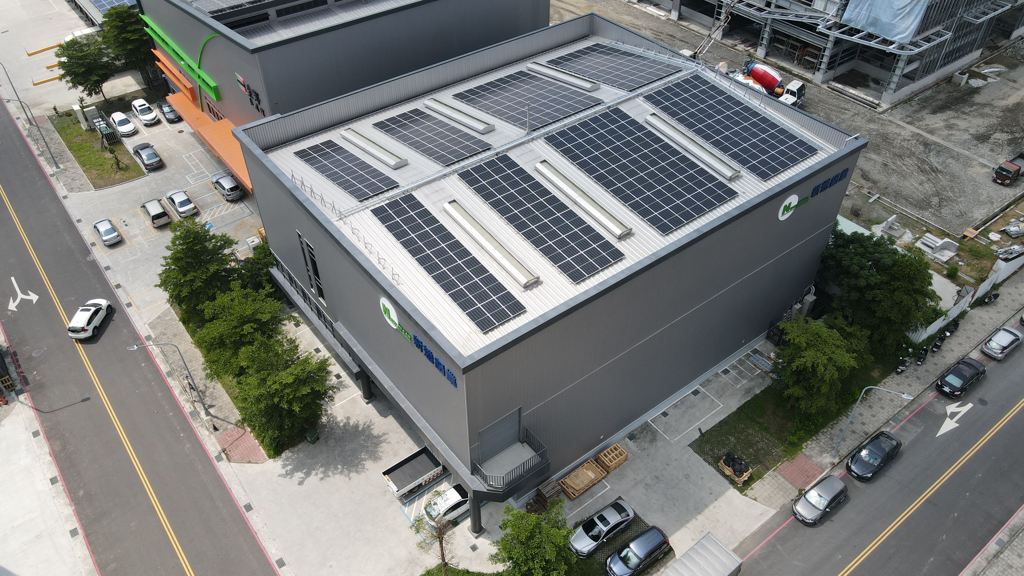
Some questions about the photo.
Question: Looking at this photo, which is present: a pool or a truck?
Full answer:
Looking from above, you can make out a truck.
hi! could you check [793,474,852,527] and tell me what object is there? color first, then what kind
gray car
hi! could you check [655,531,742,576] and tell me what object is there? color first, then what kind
white truck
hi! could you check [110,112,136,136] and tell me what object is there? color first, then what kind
white car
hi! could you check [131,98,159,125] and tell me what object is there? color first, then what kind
white car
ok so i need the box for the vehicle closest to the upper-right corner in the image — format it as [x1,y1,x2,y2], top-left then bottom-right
[993,151,1024,184]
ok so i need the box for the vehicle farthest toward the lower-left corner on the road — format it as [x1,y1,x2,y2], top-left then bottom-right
[66,296,117,339]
